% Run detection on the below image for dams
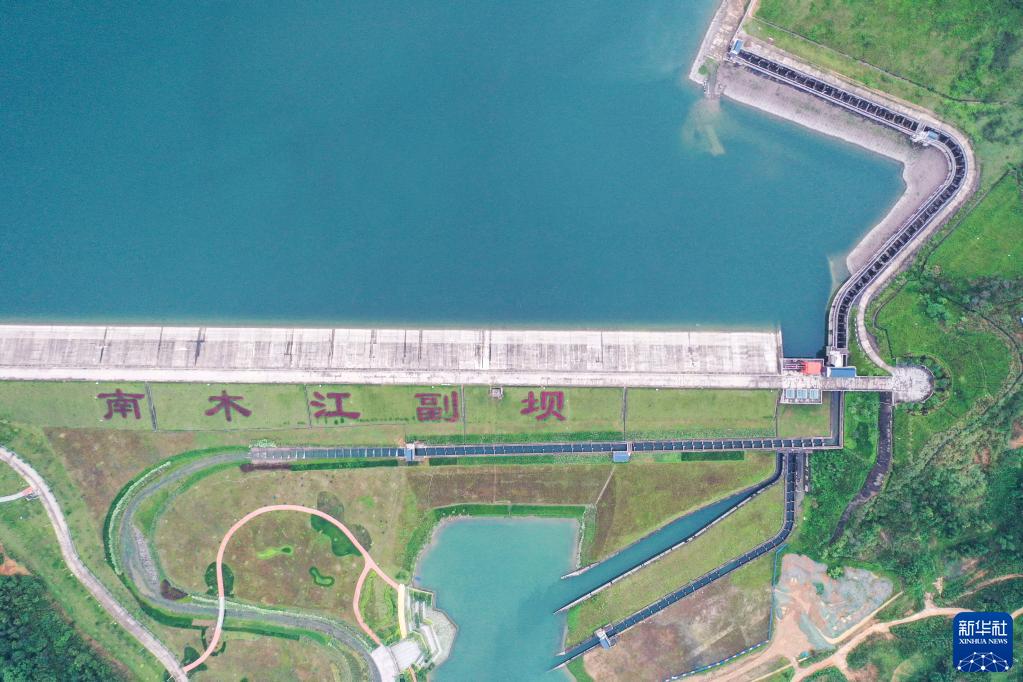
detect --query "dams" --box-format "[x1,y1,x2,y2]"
[0,325,894,439]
